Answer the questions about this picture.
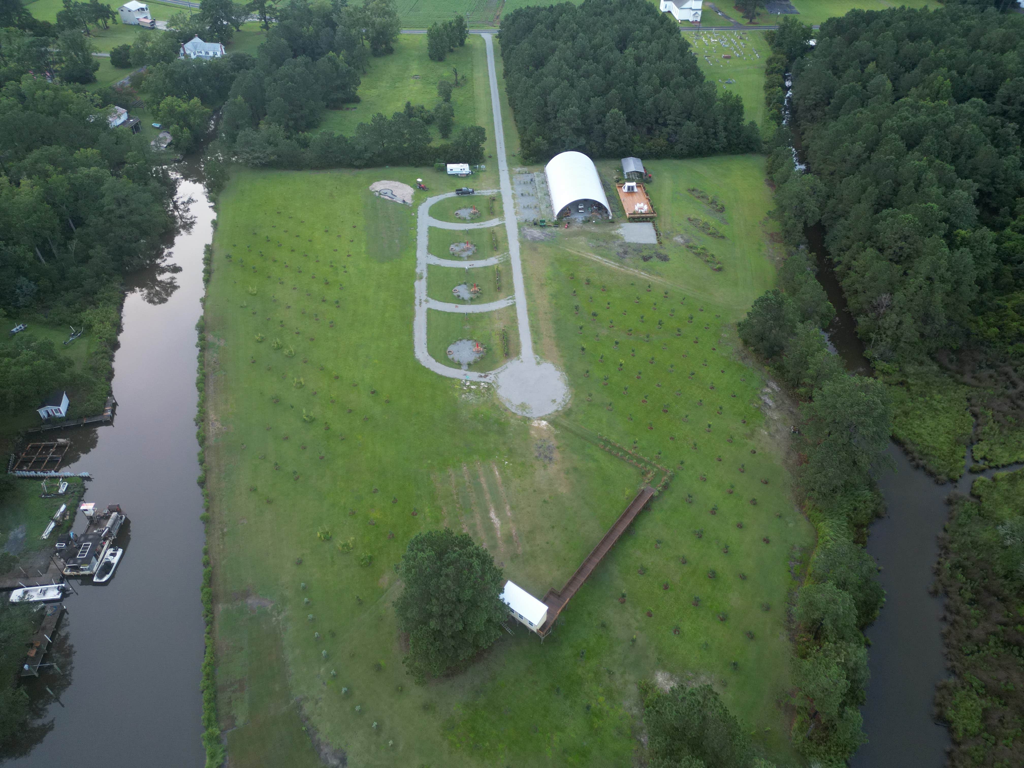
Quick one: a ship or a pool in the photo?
ship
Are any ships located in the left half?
Yes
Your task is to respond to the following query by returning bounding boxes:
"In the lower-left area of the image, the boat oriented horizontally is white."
[6,585,69,601]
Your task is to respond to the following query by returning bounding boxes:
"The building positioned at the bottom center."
[497,577,550,638]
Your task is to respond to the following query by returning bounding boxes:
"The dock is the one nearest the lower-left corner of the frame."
[21,606,65,677]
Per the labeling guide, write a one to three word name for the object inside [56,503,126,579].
ship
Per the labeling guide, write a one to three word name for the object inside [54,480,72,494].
boat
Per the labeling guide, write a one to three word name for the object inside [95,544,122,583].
boat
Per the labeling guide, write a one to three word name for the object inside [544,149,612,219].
building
